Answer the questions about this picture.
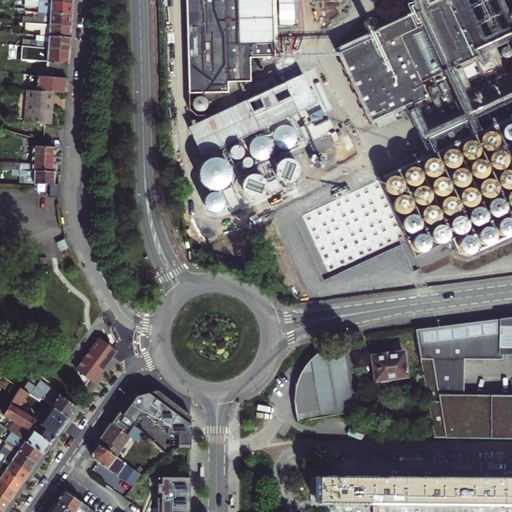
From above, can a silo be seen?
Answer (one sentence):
Yes, the frame does contain a silo.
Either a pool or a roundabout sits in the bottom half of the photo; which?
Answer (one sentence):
It is a roundabout that can be seen in the bottom half of the photo.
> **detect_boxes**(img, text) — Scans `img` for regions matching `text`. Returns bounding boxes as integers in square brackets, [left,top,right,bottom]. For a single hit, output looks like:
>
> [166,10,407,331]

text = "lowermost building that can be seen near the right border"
[314,475,512,506]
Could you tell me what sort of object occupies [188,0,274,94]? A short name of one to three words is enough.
building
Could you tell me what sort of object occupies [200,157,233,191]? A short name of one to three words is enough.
storage tank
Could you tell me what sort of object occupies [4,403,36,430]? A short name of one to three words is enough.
house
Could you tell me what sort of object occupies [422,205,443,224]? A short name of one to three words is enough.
silo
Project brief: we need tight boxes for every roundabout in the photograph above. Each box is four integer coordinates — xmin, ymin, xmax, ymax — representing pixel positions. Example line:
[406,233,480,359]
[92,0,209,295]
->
[151,274,277,400]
